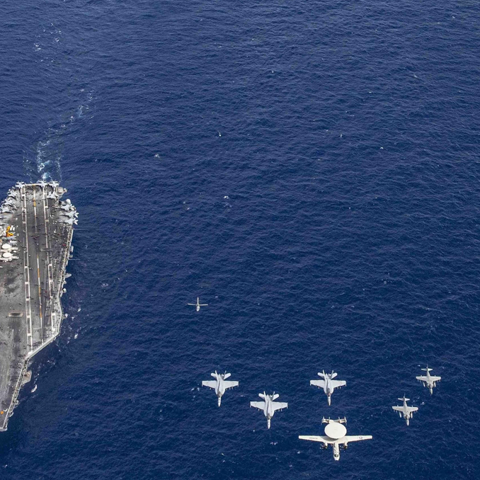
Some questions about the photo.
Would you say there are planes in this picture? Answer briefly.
Yes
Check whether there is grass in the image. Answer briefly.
No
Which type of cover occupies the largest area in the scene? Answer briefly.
water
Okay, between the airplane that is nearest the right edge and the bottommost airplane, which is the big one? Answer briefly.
the bottommost airplane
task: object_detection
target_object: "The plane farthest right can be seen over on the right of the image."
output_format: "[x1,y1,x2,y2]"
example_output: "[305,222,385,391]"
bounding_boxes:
[416,362,440,392]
